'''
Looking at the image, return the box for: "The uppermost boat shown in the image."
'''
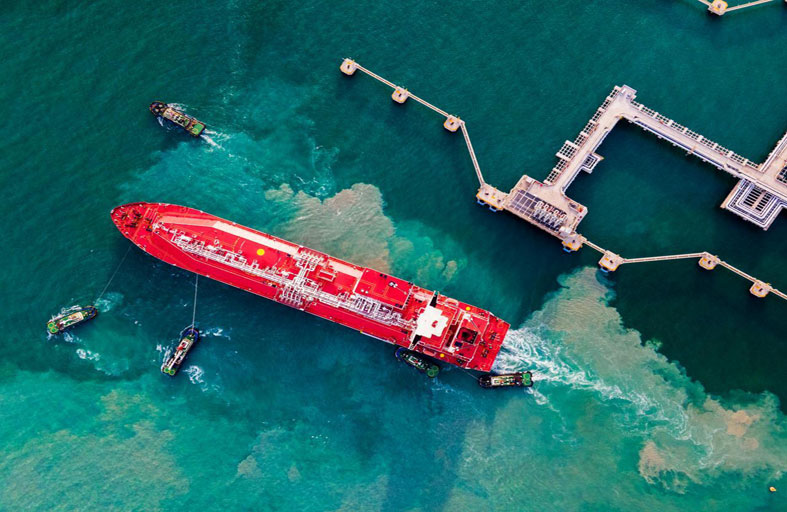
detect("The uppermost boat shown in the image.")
[148,104,207,140]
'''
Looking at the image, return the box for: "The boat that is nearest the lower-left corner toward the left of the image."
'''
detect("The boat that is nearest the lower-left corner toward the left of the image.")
[49,306,100,336]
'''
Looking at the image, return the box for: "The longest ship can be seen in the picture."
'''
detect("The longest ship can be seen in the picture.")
[108,201,509,372]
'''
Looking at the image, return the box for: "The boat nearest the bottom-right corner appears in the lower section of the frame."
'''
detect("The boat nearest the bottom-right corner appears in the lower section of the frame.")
[477,370,533,388]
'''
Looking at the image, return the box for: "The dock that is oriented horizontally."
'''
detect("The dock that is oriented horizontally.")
[546,84,787,205]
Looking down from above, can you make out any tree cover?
No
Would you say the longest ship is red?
Yes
